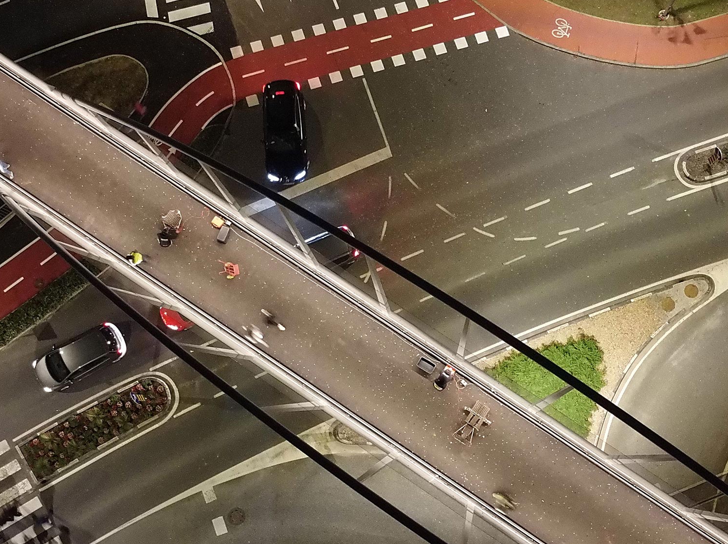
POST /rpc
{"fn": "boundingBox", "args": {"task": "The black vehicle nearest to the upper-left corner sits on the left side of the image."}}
[254,76,306,184]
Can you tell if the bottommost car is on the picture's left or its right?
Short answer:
left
